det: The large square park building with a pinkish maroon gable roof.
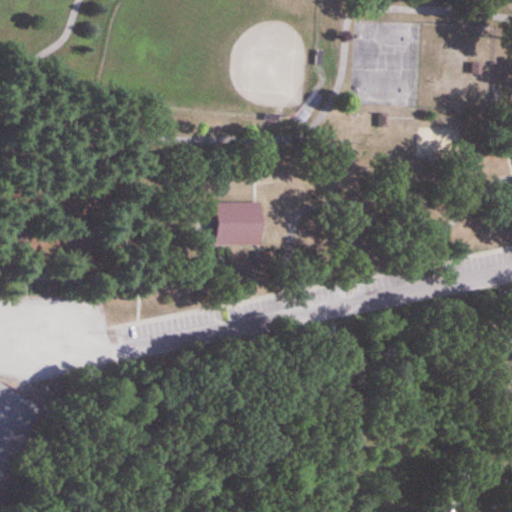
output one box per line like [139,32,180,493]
[217,202,262,245]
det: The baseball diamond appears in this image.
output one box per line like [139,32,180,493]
[230,20,307,108]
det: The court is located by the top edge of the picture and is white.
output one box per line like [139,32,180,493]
[352,22,419,106]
